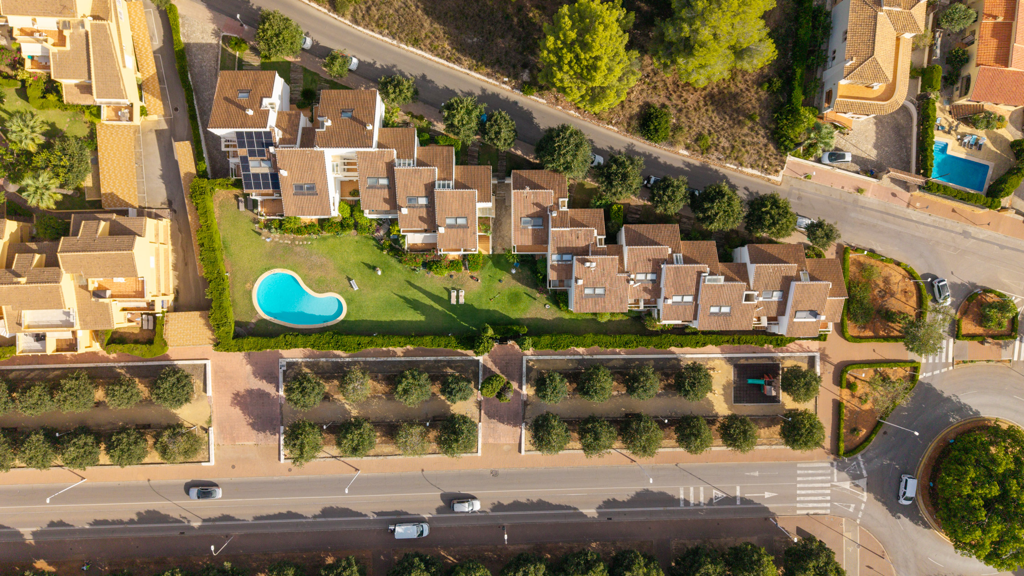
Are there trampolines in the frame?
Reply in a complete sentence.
No, no trampoline is visible in the scene.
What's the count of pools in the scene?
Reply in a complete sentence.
In total, there are 2 pools in the scene.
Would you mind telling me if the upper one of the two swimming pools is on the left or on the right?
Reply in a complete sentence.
The upper one of the two swimming pools is on the right side of the image.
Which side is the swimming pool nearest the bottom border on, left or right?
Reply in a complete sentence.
The swimming pool nearest the bottom border appears in the left half of the scene.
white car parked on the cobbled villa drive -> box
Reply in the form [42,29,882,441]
[819,149,853,165]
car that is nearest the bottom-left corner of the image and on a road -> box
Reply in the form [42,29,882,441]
[189,484,223,501]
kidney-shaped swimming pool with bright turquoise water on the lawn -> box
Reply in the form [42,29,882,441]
[252,268,347,329]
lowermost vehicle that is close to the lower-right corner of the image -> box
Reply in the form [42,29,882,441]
[897,474,918,505]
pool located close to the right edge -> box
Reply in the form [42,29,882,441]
[930,136,994,193]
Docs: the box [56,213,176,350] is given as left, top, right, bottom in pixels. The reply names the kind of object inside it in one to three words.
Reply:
building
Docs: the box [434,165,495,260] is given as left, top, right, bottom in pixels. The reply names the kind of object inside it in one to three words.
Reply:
house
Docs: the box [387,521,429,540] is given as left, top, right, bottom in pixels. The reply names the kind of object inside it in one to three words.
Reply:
vehicle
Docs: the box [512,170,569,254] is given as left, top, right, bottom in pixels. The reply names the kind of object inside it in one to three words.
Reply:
house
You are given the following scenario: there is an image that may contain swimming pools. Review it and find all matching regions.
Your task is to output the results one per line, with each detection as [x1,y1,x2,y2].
[930,136,994,193]
[252,268,347,329]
